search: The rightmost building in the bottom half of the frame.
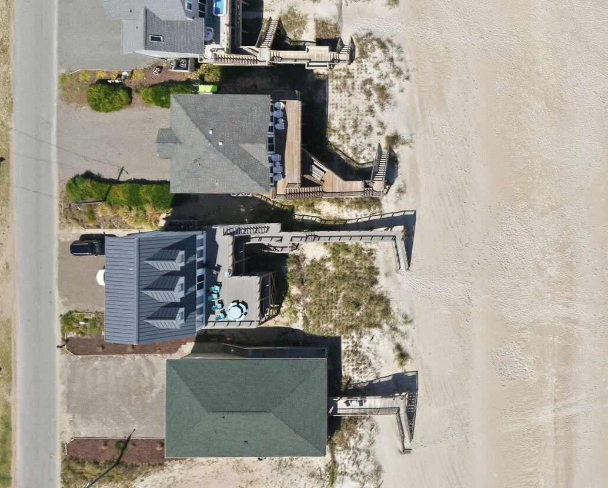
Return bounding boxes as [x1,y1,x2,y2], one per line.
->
[165,353,333,457]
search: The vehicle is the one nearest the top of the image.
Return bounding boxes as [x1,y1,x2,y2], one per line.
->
[72,239,105,256]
